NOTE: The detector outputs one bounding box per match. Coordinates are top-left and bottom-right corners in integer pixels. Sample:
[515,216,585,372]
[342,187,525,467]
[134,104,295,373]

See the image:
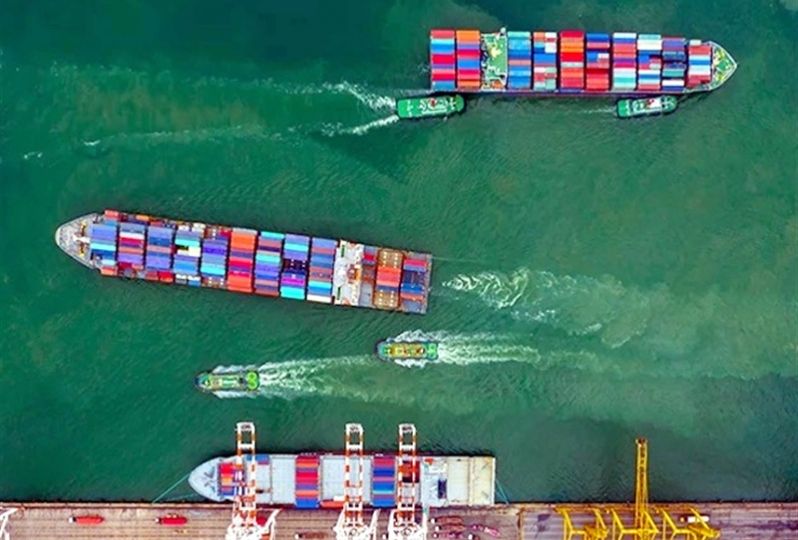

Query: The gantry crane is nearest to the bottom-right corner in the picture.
[657,507,724,540]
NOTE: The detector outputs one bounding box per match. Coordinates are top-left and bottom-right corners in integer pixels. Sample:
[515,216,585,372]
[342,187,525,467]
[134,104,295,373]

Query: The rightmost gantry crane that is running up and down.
[609,437,659,540]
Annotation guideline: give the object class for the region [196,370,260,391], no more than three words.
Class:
boat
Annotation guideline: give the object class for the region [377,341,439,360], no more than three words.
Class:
boat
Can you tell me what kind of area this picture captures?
port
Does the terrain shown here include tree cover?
No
